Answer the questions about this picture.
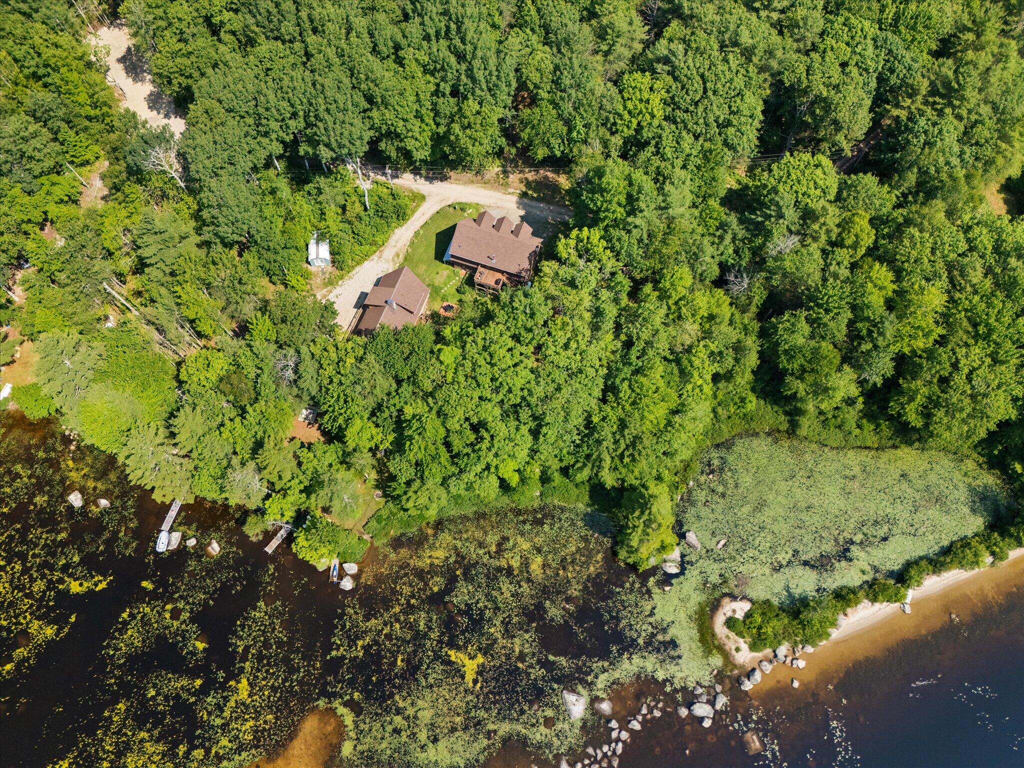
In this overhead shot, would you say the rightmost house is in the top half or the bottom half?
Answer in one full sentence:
You can find the rightmost house in the top half.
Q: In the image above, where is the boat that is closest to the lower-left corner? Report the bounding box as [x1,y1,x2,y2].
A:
[154,529,168,554]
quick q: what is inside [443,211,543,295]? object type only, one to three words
house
